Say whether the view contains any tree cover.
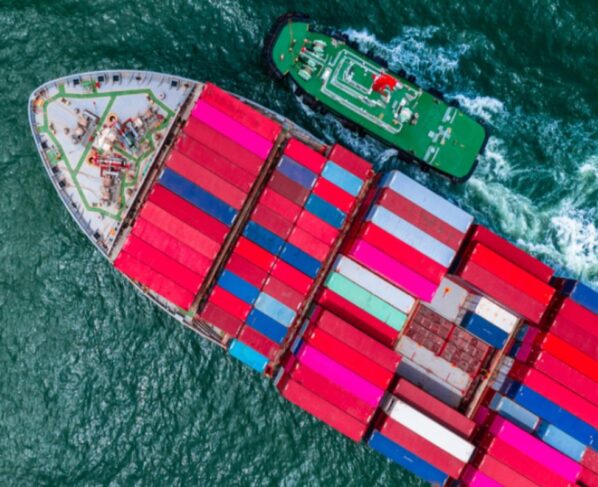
No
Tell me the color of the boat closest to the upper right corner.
green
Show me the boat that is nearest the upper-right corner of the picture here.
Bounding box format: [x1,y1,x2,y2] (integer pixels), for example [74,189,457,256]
[265,13,489,183]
